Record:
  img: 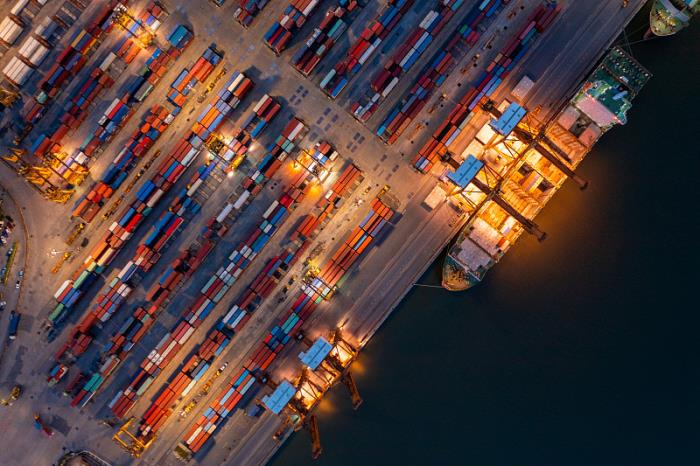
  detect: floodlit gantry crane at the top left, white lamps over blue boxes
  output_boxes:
[112,4,163,52]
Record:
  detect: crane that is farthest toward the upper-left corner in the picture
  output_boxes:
[0,84,47,122]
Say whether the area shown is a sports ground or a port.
port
